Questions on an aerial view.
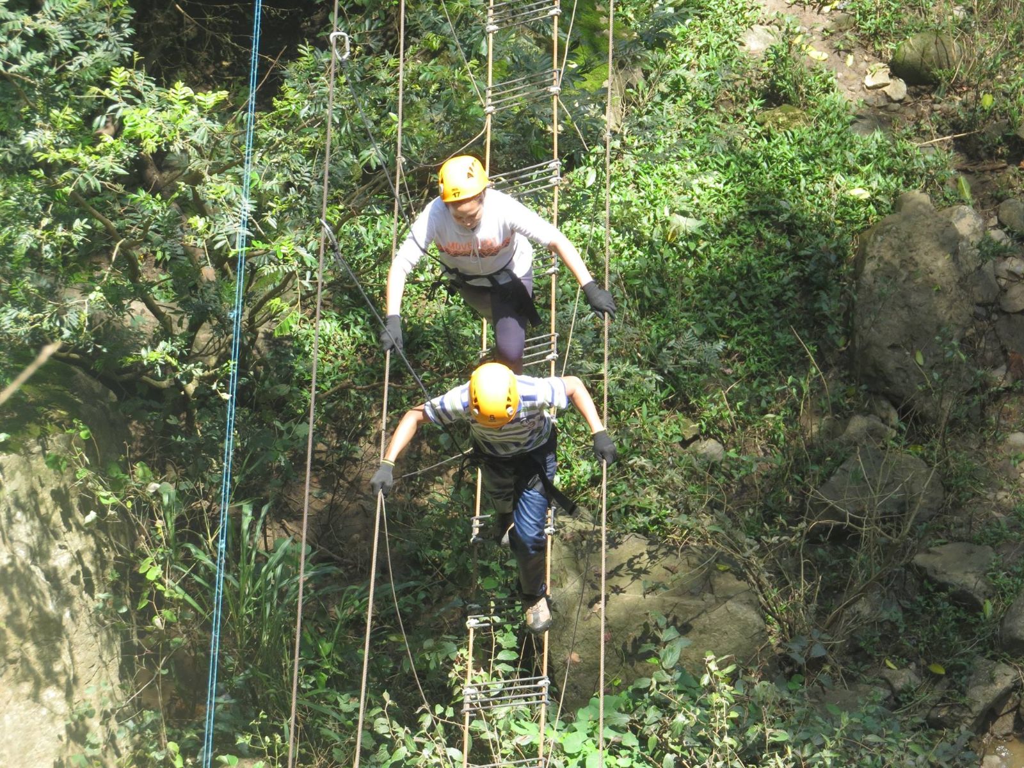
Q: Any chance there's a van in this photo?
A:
No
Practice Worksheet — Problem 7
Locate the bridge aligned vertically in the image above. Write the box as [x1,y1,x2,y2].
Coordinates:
[353,0,614,768]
